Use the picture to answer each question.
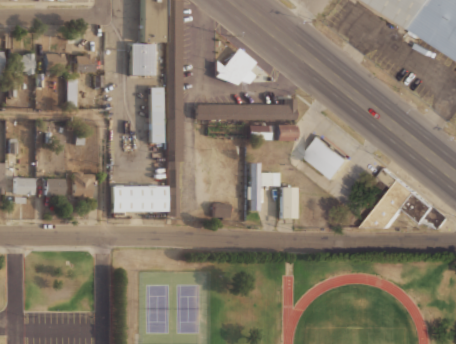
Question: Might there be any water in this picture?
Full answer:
No, there is no water in the image.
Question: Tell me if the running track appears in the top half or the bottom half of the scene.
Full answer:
It is in the bottom half that the running track appears.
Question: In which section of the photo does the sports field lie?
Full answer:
You can find the sports field in the bottom right area of the picture.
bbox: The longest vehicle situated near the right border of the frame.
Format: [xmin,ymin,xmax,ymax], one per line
[412,43,437,56]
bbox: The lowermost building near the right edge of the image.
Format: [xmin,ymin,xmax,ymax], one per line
[359,166,446,229]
